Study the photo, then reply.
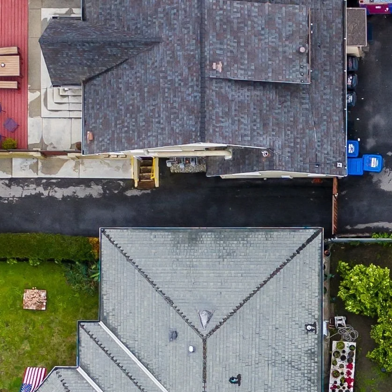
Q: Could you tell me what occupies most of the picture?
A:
buildings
